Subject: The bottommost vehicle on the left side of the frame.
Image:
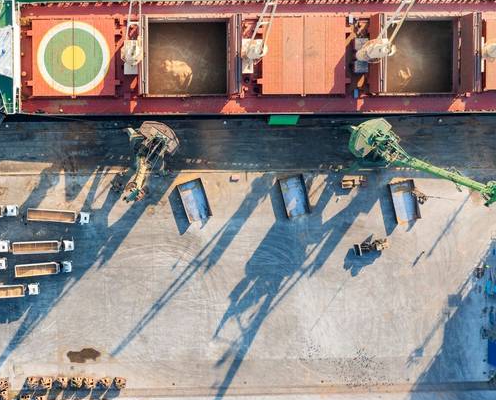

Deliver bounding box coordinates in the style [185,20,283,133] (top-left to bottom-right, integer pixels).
[0,281,41,298]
